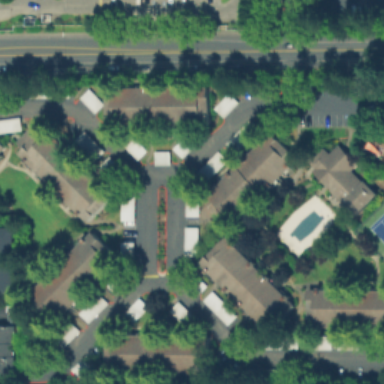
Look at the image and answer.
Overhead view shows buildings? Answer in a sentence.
Yes, this view includes a building.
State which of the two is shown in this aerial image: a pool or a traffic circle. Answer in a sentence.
This aerial view contains a pool.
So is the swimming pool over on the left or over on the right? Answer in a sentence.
It is on the right.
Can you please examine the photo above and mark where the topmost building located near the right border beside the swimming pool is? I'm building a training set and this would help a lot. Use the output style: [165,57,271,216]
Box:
[308,142,372,212]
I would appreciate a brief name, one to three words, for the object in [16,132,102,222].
building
